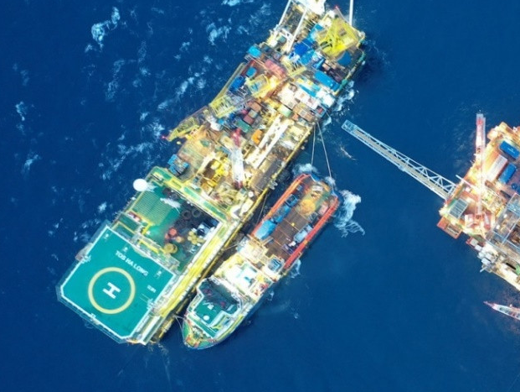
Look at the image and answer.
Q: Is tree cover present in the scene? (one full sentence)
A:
No, tree cover can't be seen anywhere here.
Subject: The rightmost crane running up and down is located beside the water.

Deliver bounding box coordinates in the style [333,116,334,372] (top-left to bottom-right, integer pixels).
[471,114,493,229]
